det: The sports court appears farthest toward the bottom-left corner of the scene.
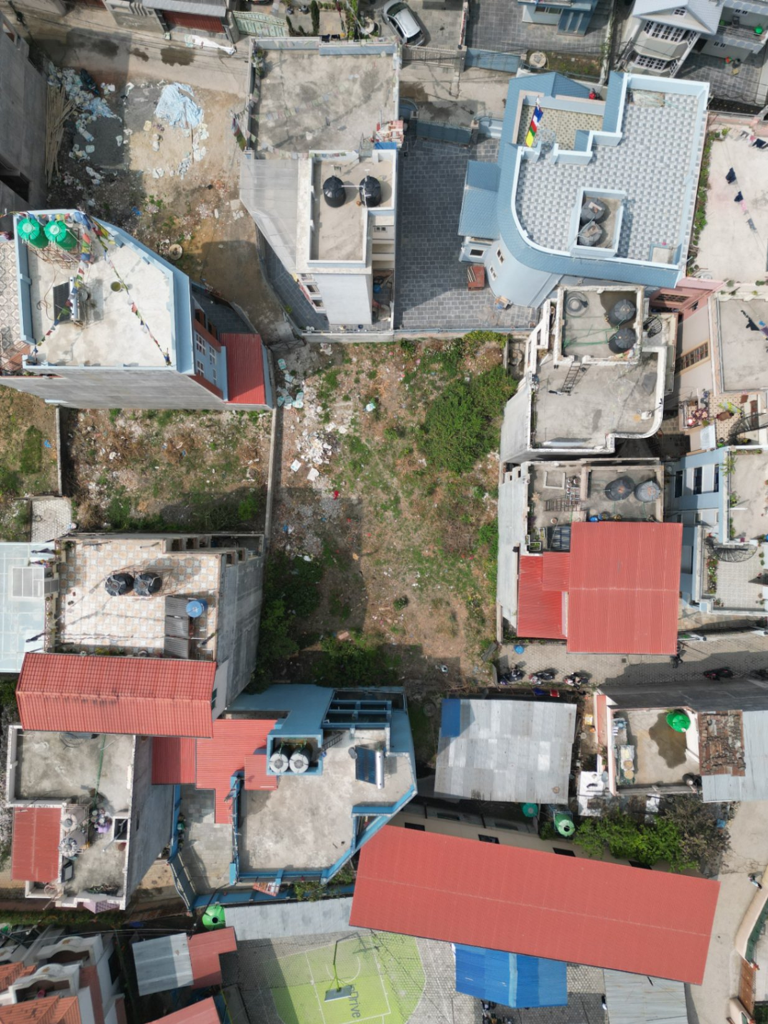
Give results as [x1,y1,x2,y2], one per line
[271,935,425,1024]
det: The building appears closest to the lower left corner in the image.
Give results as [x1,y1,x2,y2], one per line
[0,913,140,1024]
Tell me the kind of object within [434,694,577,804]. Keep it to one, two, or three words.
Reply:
shed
